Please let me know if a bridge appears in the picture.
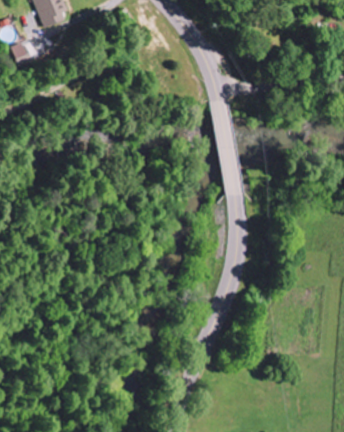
Yes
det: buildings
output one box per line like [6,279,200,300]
[11,40,32,60]
[33,0,56,26]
